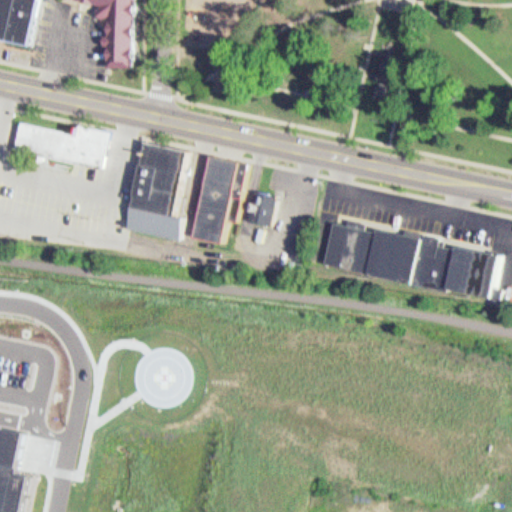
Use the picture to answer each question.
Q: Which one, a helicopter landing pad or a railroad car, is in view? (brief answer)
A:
helicopter landing pad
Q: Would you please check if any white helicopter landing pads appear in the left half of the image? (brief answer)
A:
Yes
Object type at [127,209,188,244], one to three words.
shed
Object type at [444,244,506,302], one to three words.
building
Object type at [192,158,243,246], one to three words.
building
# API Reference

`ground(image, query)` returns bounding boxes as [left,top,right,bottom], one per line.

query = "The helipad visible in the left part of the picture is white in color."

[136,349,194,407]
